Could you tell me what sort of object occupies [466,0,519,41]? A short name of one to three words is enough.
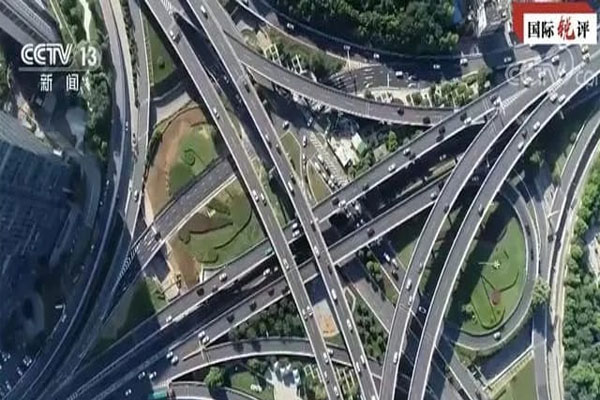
building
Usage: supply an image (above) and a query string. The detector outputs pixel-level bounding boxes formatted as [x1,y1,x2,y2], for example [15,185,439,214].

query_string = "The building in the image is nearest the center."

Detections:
[328,131,355,167]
